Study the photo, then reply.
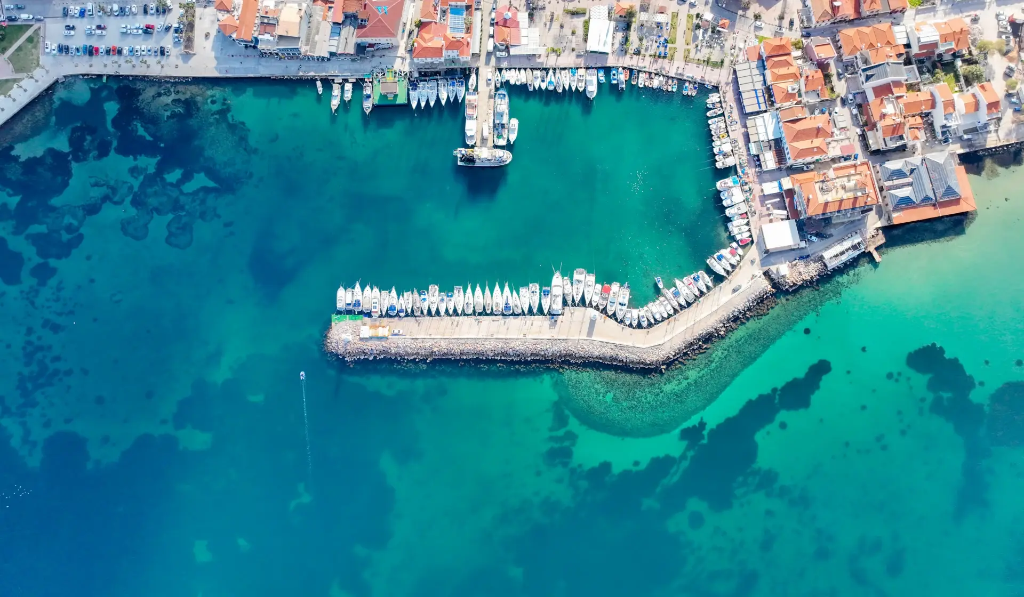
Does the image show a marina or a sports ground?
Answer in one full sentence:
What you see here is a marina.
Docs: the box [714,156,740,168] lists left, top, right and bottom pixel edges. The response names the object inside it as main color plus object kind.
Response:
white boat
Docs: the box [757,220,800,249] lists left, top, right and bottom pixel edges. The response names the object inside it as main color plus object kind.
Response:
white tent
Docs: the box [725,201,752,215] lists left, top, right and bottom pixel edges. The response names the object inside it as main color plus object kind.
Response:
white boat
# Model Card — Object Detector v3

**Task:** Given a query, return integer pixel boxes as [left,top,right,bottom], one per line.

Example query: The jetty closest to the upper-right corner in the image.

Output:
[865,230,886,262]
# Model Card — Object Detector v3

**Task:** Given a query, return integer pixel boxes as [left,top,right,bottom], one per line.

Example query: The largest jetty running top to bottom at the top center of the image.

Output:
[476,68,495,148]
